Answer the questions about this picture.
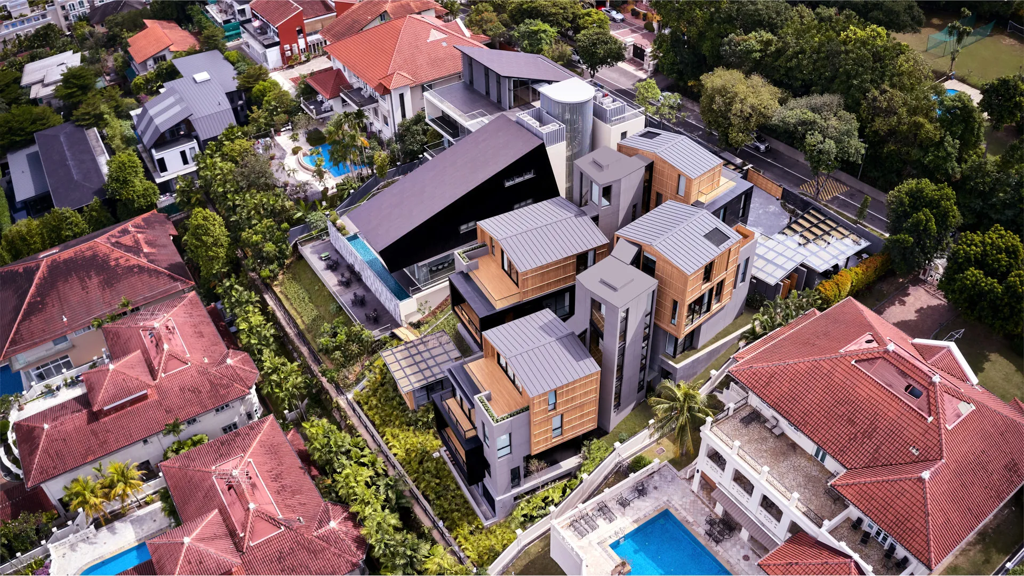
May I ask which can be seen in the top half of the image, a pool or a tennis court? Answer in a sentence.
There is a pool in the top half of the image.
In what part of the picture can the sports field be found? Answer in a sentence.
The sports field is in the top right part of the image.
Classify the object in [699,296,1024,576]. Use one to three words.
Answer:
house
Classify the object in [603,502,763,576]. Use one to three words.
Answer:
swimming pool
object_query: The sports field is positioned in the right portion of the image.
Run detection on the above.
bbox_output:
[894,1,1024,134]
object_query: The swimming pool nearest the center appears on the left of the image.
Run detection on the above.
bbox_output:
[329,222,419,327]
